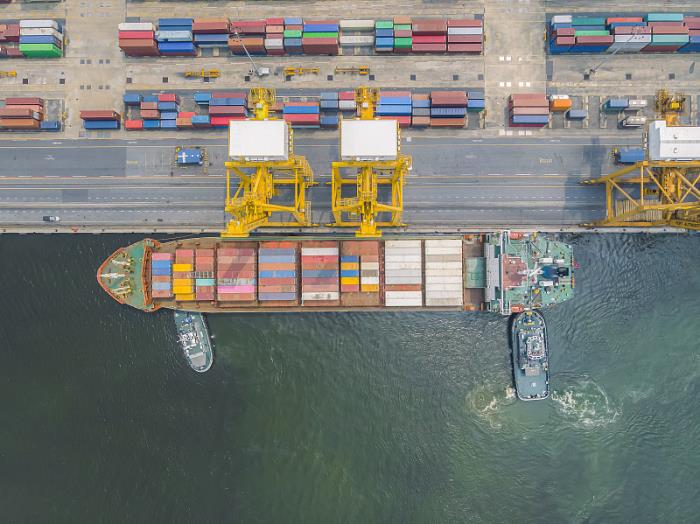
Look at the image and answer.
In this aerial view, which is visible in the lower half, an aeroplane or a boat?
boat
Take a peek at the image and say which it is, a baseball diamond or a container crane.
container crane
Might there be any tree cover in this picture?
No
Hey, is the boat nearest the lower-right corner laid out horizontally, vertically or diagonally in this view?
vertically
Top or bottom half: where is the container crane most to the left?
top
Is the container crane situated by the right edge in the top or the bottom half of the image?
top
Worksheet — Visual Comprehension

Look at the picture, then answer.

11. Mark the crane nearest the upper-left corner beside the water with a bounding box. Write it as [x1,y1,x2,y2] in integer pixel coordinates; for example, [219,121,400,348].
[218,88,318,237]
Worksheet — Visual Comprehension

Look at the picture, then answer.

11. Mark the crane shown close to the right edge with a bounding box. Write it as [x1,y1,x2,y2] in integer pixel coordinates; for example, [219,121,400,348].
[582,85,700,226]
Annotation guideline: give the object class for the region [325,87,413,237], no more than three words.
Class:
container crane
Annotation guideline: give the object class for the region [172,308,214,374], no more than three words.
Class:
boat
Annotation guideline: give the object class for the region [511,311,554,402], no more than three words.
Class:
boat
